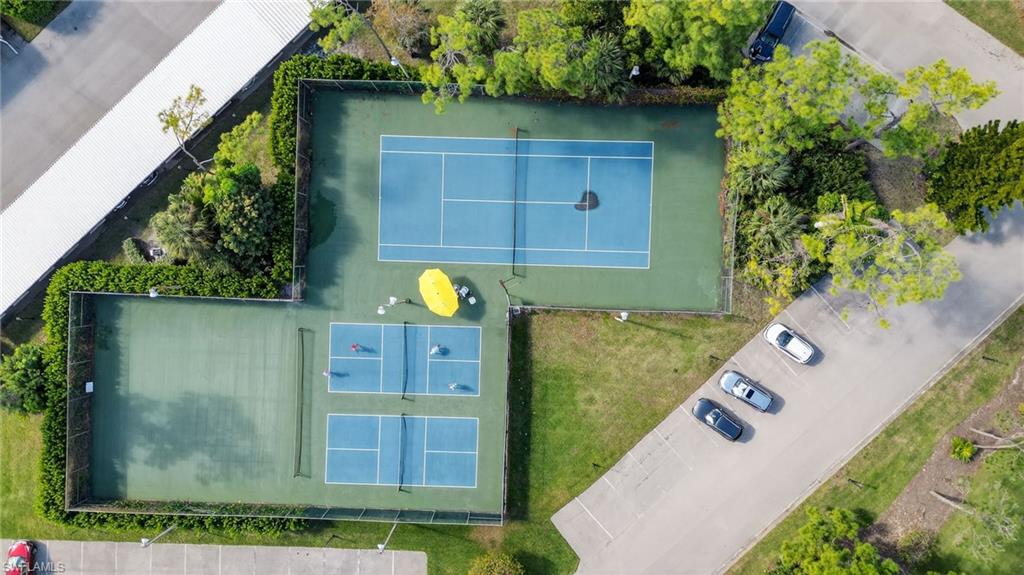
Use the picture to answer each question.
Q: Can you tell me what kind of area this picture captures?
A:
sports ground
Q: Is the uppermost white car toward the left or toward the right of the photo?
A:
right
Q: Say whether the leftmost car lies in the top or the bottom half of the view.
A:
bottom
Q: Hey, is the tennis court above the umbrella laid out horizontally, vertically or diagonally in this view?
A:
horizontally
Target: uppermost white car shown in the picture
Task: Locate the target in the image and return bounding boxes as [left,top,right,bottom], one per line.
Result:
[764,322,817,364]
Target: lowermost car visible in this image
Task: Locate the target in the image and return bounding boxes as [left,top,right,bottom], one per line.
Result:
[5,539,35,575]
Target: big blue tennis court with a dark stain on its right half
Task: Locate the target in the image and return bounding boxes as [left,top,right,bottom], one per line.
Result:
[378,135,654,268]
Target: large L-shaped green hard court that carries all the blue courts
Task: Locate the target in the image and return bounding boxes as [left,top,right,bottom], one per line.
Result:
[91,90,732,514]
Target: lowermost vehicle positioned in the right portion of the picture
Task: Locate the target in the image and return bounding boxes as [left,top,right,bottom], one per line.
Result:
[690,398,745,442]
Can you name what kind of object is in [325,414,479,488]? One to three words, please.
sports court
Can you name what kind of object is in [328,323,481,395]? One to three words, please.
sports court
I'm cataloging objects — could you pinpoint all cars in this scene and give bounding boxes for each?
[720,370,776,413]
[746,2,797,62]
[145,169,159,182]
[5,539,35,575]
[764,322,817,364]
[690,398,745,442]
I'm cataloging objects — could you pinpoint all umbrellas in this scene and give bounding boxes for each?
[419,268,459,317]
